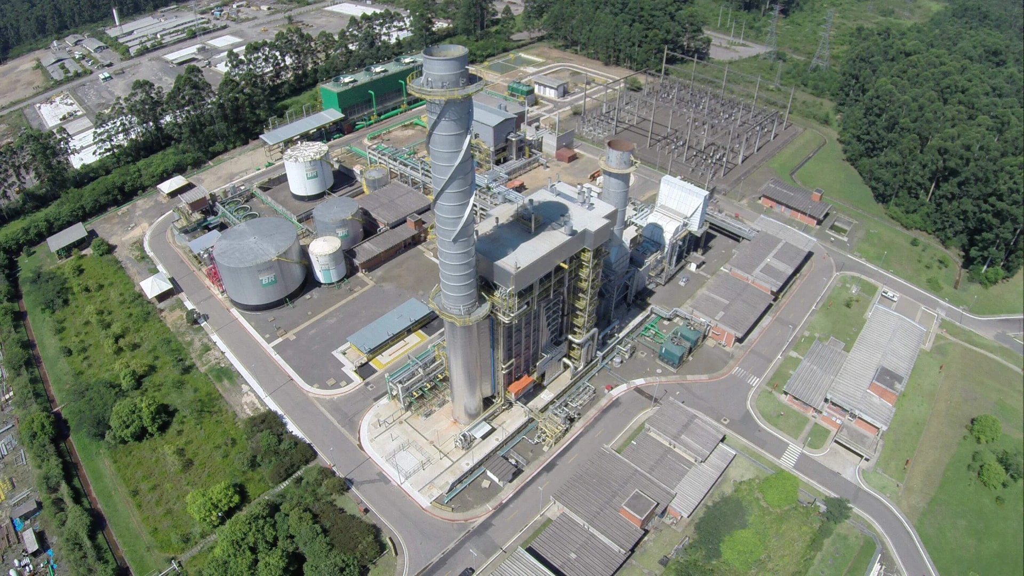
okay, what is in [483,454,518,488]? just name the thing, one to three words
shed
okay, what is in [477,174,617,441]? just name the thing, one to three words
building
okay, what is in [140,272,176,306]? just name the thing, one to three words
tent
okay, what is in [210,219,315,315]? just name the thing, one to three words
storage tank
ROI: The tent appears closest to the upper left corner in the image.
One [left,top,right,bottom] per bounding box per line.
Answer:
[157,175,193,200]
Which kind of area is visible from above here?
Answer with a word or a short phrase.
industrial area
